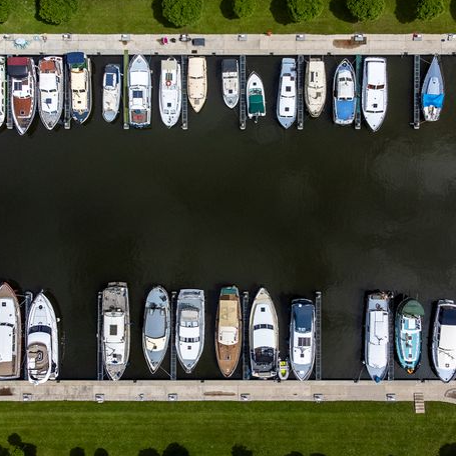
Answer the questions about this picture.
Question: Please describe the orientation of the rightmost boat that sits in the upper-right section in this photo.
from top to bottom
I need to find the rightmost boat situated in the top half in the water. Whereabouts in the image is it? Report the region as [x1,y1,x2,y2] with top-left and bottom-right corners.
[416,52,444,123]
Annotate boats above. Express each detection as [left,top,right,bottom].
[416,52,444,123]
[356,293,392,383]
[101,53,124,121]
[186,57,209,111]
[214,286,244,383]
[247,288,281,383]
[175,289,206,383]
[37,55,66,129]
[274,55,298,127]
[7,53,39,133]
[302,51,328,117]
[288,298,317,383]
[0,283,25,383]
[127,53,155,128]
[102,283,133,382]
[359,52,389,132]
[391,297,424,379]
[0,53,10,128]
[428,298,456,383]
[24,292,63,386]
[330,53,358,126]
[158,53,184,127]
[247,52,265,122]
[69,52,94,122]
[142,285,178,383]
[279,358,289,379]
[219,56,241,106]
